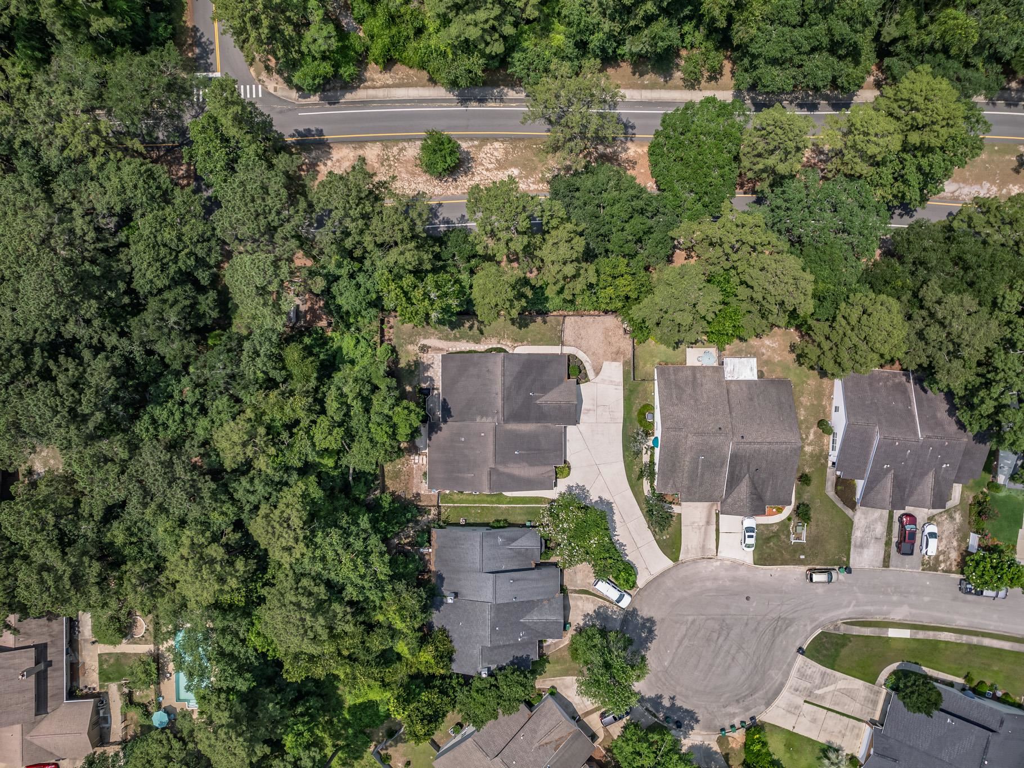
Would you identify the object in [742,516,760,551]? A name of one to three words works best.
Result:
car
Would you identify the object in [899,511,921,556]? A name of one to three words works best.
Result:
truck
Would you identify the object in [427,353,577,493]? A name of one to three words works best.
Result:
house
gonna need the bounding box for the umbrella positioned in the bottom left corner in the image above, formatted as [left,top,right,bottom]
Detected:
[153,708,171,726]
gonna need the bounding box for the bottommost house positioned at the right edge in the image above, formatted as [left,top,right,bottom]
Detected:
[847,676,1024,768]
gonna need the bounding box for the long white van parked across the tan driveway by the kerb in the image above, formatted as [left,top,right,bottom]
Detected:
[592,577,630,609]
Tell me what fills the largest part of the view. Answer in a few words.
trees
